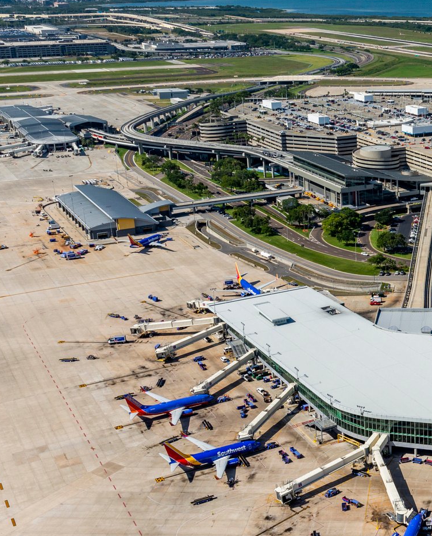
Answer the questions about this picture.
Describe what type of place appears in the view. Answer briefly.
airport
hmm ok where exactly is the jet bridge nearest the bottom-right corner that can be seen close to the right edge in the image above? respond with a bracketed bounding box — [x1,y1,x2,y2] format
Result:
[370,435,417,528]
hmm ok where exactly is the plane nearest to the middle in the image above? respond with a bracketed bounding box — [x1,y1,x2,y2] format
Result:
[214,266,277,298]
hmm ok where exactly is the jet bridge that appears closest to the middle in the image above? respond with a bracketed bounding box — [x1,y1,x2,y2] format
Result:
[183,300,214,317]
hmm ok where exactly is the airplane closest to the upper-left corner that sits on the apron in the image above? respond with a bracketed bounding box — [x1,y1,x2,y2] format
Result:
[116,233,165,247]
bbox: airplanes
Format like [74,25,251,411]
[393,512,432,536]
[214,266,277,298]
[123,386,215,427]
[162,431,262,480]
[116,233,165,247]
